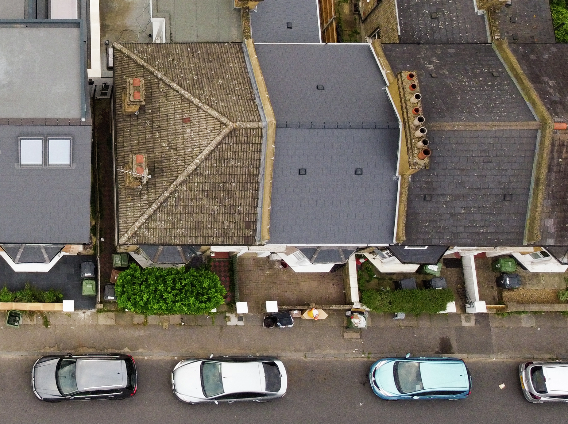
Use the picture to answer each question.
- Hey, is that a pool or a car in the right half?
car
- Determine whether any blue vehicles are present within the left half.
No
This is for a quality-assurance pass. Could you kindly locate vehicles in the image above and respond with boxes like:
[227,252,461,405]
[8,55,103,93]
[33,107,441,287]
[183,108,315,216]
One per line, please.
[169,349,287,407]
[364,351,473,406]
[510,357,568,404]
[31,348,137,405]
